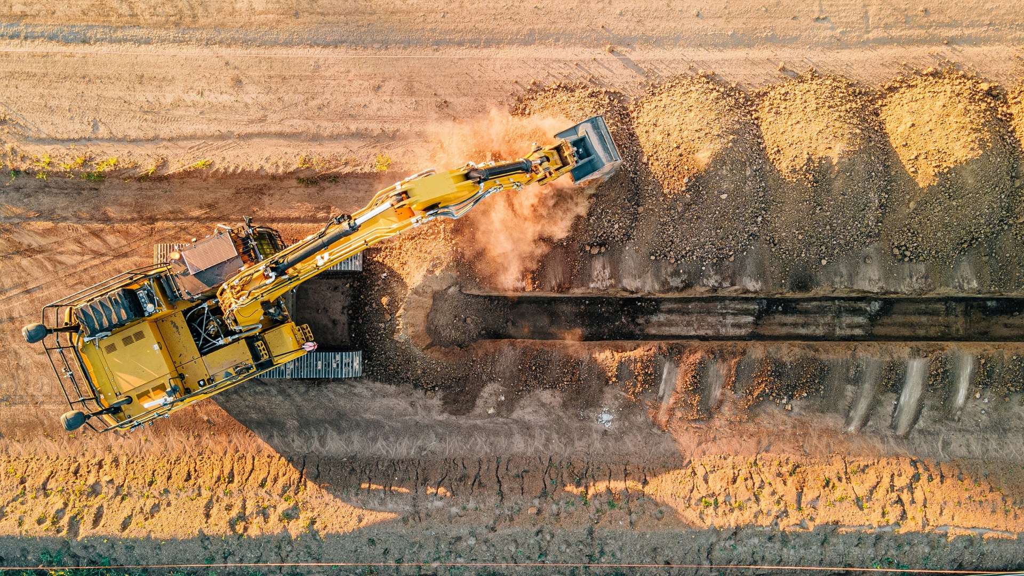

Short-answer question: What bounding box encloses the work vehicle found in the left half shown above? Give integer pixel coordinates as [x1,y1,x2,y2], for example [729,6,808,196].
[21,110,627,433]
